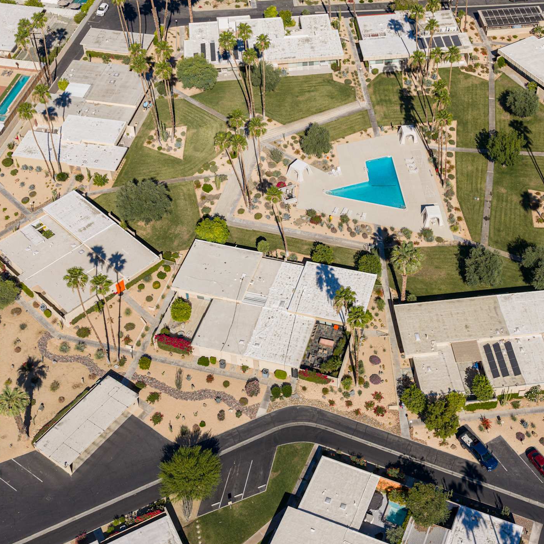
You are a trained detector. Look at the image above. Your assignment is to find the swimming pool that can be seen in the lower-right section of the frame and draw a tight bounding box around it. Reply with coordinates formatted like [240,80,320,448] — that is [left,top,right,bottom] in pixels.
[382,498,411,527]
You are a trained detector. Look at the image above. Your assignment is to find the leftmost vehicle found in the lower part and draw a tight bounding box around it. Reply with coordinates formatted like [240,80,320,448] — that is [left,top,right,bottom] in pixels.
[457,432,493,470]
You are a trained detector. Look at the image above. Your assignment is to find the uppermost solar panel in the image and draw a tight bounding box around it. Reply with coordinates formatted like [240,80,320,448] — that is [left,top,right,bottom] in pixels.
[483,8,542,25]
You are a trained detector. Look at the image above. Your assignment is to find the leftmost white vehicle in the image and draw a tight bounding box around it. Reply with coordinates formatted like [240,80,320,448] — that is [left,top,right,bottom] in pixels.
[95,0,111,15]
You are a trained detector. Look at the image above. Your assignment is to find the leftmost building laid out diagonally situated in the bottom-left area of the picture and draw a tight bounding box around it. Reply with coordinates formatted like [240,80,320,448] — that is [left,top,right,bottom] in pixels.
[36,370,139,472]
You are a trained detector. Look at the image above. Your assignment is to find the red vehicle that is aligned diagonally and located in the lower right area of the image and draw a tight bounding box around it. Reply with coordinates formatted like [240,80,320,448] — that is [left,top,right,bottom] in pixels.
[525,449,544,478]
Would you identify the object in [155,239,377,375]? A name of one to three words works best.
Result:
house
